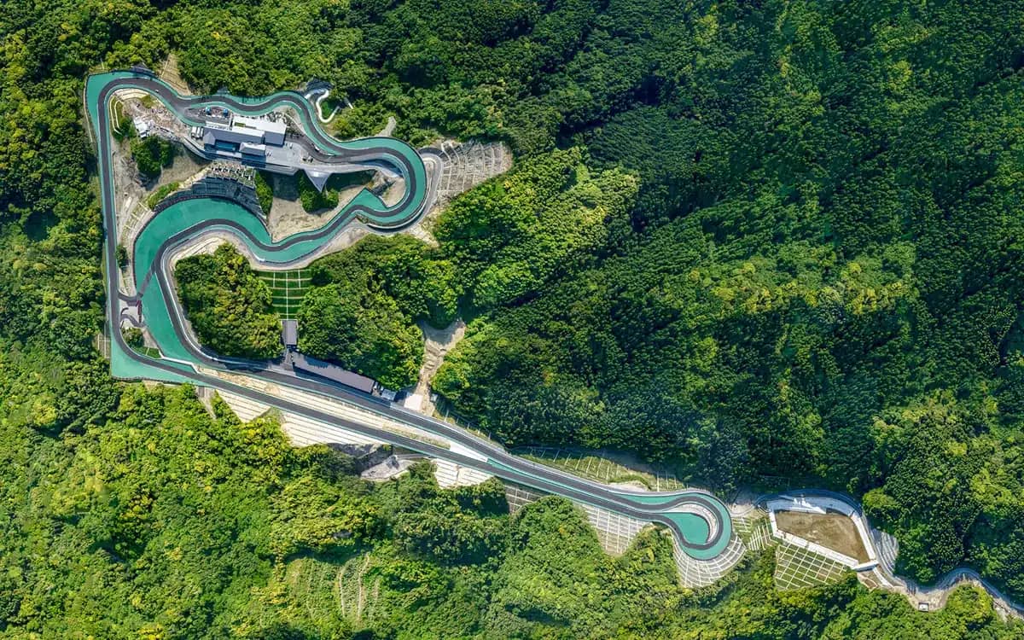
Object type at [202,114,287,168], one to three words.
building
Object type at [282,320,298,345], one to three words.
building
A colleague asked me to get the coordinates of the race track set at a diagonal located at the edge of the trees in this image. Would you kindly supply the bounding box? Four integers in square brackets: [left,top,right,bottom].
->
[98,76,725,551]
